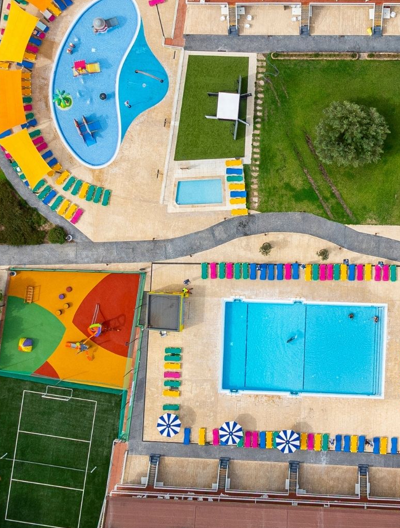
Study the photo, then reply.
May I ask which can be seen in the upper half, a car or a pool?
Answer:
pool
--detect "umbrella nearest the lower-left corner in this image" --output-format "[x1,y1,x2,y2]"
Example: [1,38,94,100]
[157,413,181,436]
